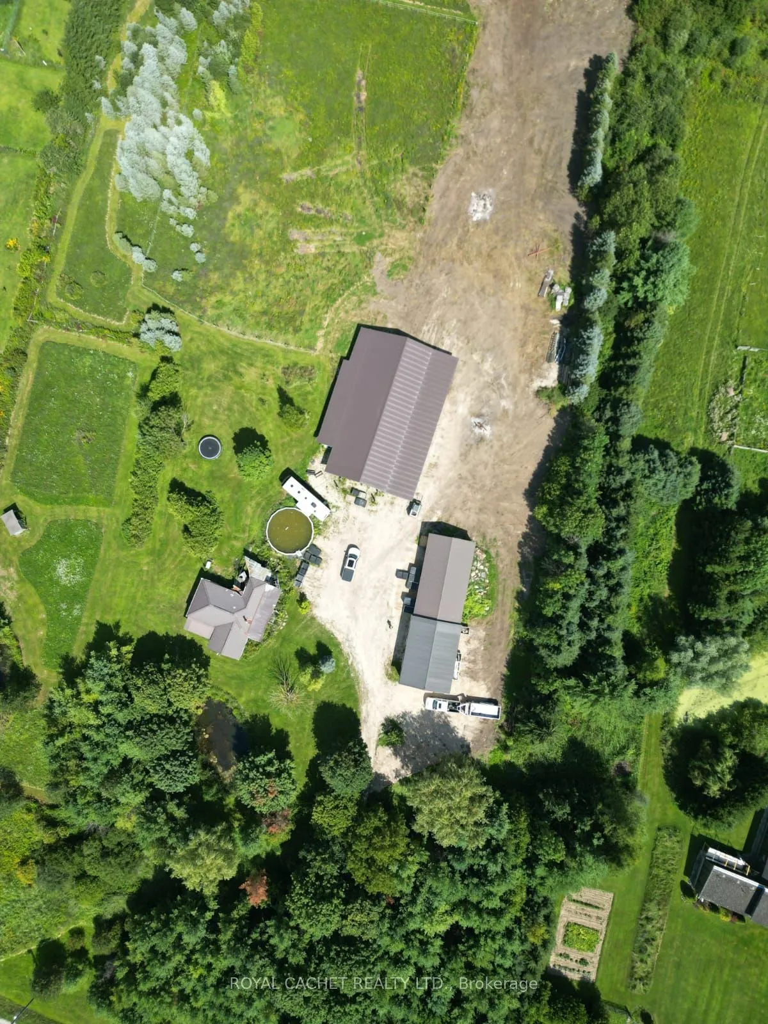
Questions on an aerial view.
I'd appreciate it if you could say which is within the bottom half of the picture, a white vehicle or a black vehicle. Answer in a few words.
white vehicle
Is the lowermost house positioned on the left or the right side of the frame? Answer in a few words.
right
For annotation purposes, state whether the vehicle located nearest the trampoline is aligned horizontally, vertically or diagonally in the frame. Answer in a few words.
diagonally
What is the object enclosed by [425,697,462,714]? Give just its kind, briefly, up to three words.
vehicle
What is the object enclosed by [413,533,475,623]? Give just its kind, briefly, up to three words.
shed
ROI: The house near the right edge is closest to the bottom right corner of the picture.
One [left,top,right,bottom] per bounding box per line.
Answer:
[693,811,768,927]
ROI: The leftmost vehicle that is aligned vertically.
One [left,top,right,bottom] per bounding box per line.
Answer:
[340,547,359,584]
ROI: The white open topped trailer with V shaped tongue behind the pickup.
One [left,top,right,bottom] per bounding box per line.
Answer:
[459,700,503,720]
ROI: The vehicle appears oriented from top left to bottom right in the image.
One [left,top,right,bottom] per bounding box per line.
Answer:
[283,476,334,523]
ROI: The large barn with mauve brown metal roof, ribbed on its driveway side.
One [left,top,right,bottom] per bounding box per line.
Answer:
[317,327,458,500]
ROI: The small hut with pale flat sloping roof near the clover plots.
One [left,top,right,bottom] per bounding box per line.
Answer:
[1,510,27,535]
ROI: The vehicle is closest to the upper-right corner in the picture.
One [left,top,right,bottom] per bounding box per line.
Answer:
[409,499,422,517]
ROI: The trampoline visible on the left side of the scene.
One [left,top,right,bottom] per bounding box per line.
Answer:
[199,437,221,459]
